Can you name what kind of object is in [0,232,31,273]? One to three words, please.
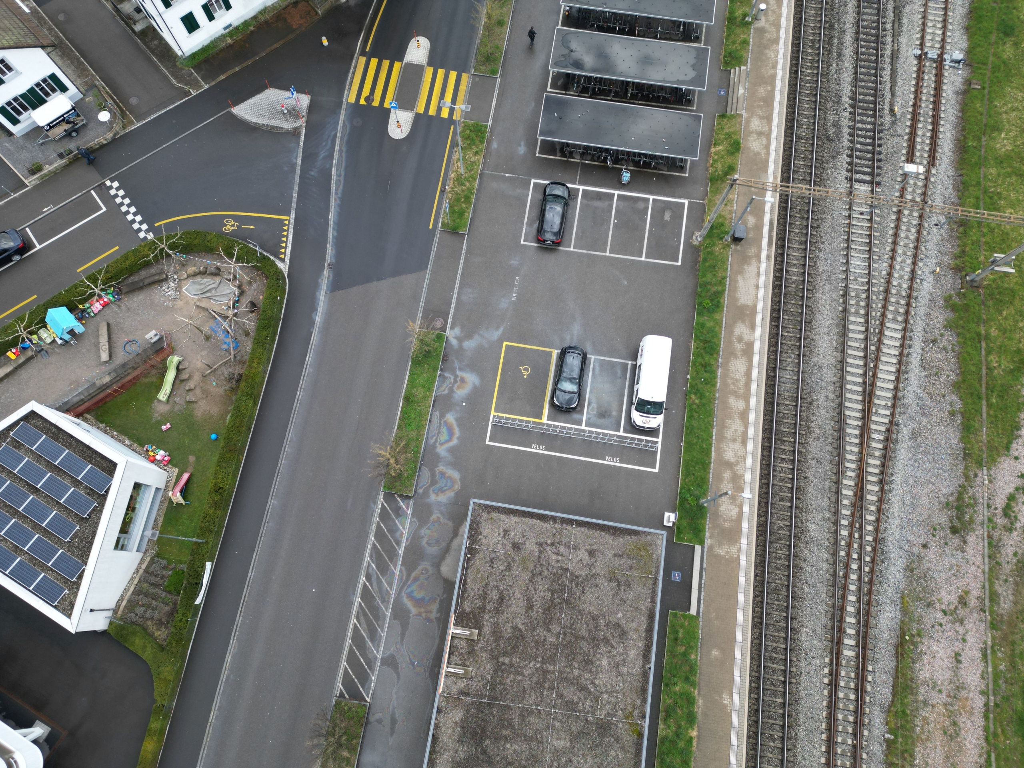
car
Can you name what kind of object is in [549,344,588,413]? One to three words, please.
car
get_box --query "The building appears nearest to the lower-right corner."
[424,499,666,768]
